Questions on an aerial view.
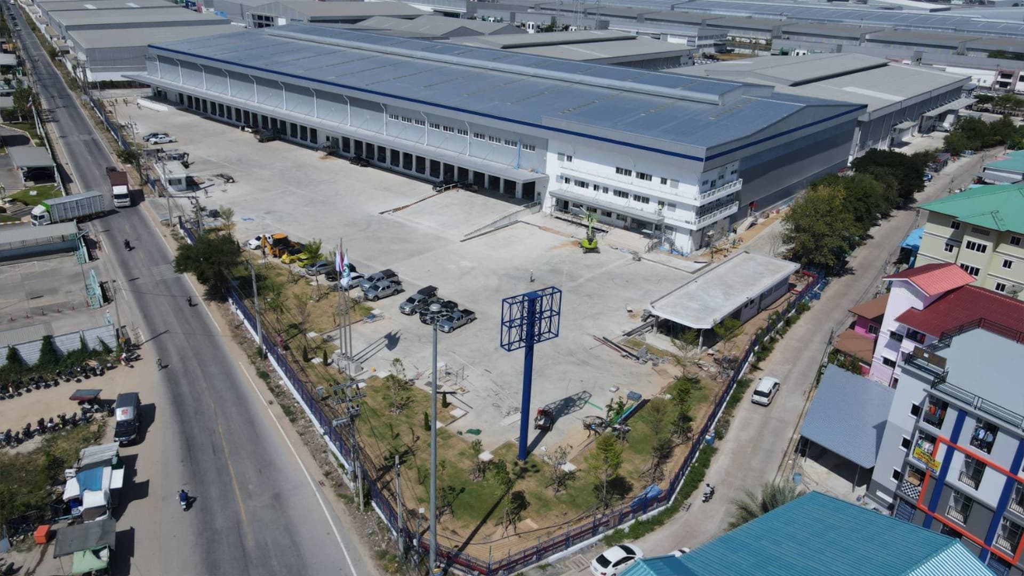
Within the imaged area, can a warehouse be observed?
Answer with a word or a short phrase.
Yes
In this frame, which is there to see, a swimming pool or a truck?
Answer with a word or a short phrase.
truck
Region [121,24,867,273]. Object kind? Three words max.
warehouse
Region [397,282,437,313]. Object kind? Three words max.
truck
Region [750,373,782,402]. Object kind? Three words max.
car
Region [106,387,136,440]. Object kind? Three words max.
truck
